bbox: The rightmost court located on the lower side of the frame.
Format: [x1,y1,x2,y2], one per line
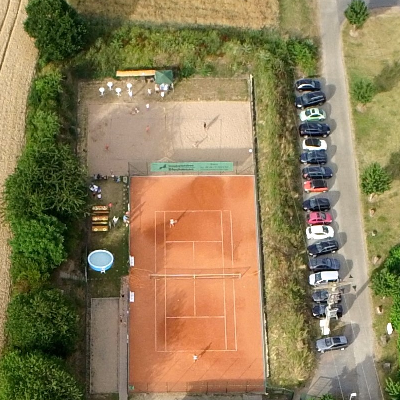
[128,176,266,394]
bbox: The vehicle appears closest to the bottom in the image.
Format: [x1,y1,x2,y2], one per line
[315,337,349,353]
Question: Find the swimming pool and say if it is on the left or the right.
left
